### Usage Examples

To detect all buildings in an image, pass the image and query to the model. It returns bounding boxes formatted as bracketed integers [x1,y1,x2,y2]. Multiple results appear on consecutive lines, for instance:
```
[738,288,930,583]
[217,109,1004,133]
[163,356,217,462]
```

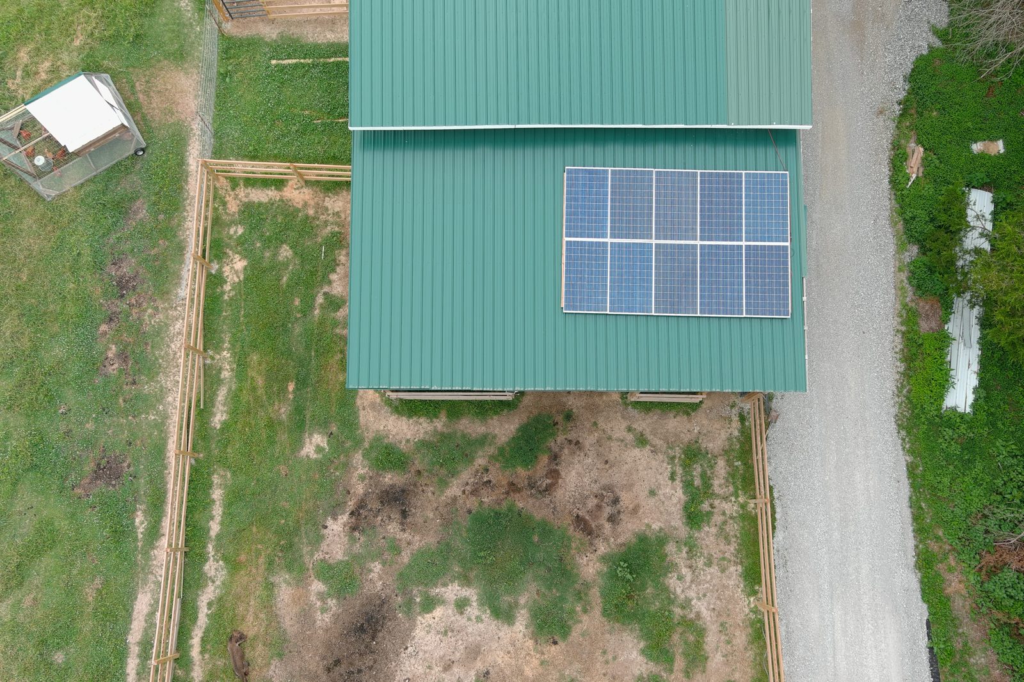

[345,0,812,396]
